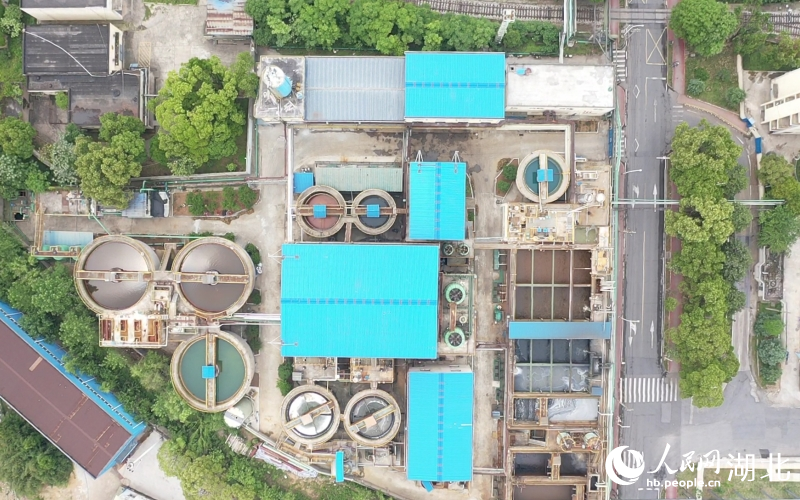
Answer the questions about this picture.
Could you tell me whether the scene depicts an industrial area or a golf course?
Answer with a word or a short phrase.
industrial area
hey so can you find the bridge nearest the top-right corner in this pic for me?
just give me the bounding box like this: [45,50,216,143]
[603,7,682,27]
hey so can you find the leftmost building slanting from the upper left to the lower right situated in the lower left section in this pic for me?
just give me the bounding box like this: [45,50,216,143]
[0,305,144,481]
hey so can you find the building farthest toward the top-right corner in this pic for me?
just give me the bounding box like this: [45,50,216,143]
[762,66,800,133]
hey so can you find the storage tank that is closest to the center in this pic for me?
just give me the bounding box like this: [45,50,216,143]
[351,188,398,235]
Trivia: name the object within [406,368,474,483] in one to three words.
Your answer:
building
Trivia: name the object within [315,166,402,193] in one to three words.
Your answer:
shed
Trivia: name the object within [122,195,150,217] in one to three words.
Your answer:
shed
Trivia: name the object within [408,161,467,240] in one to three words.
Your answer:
building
